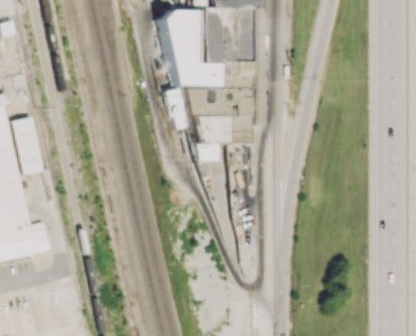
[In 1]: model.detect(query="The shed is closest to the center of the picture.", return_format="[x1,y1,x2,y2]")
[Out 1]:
[195,144,222,162]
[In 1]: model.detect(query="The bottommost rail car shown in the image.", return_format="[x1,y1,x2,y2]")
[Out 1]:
[88,296,104,336]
